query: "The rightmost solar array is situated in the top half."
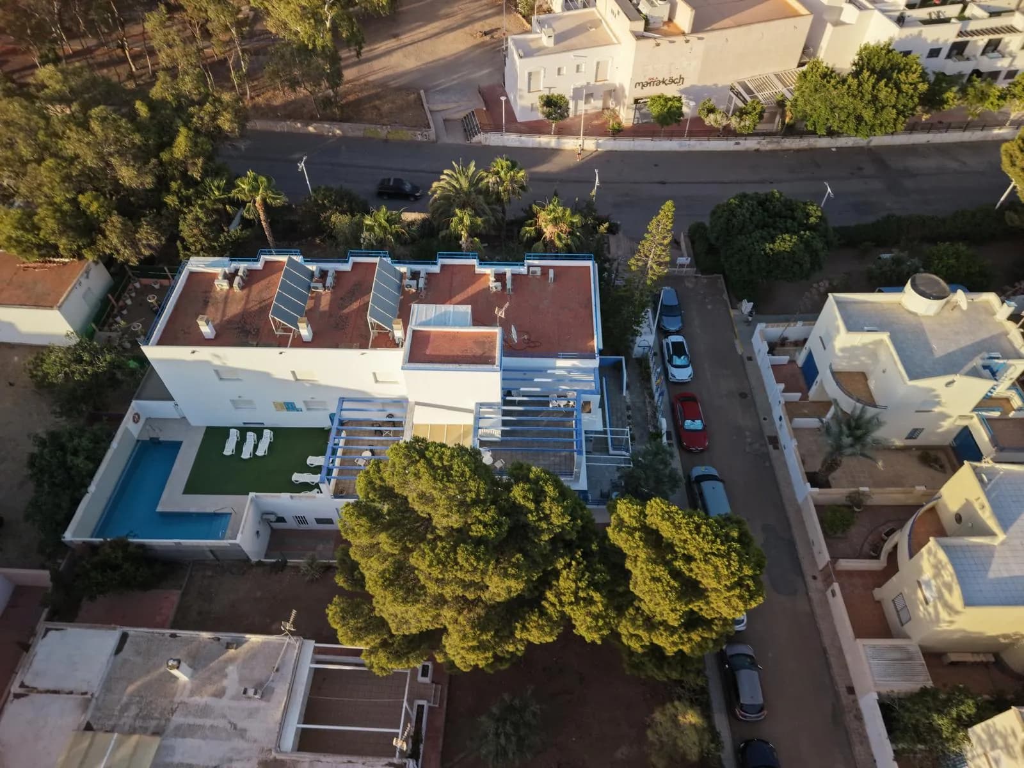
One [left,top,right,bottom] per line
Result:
[368,256,403,349]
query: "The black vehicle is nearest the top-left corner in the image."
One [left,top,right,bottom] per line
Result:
[371,175,427,205]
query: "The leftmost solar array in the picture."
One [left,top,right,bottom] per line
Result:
[268,256,315,346]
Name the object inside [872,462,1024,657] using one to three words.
house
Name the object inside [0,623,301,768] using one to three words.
house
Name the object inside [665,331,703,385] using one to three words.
car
